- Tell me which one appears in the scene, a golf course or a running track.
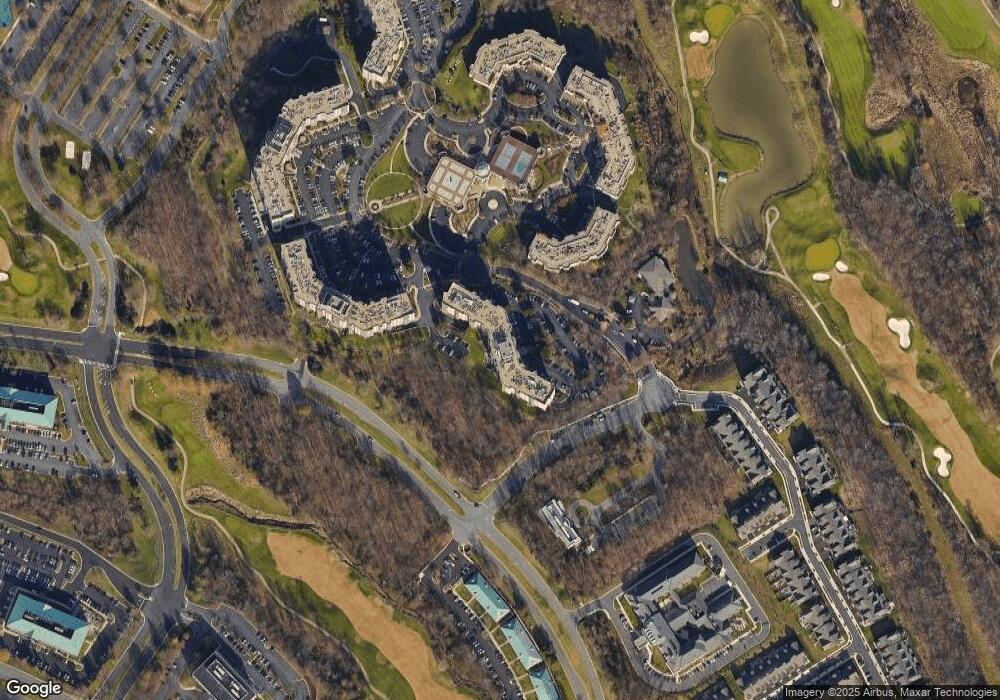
golf course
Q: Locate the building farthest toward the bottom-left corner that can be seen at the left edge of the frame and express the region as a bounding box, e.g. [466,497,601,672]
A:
[7,594,88,658]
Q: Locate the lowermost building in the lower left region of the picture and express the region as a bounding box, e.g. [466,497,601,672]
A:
[193,652,258,700]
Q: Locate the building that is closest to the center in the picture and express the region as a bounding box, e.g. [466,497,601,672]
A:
[440,282,553,413]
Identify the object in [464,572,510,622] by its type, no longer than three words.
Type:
building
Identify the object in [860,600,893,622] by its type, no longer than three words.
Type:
house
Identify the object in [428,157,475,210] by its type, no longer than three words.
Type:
building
